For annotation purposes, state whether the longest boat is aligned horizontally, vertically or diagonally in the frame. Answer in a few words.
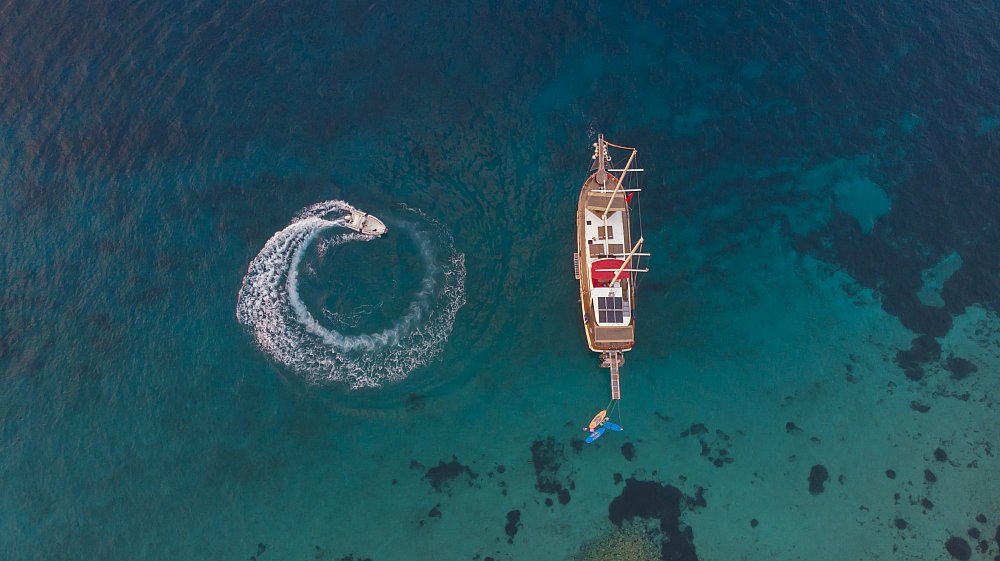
vertically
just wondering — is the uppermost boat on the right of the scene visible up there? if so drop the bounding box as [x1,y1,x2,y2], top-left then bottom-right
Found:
[573,129,650,400]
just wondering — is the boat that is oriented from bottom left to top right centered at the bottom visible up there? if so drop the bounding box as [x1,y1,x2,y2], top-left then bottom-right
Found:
[590,410,606,429]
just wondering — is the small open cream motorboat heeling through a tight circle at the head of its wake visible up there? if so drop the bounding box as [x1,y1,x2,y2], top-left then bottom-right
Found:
[344,210,387,231]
